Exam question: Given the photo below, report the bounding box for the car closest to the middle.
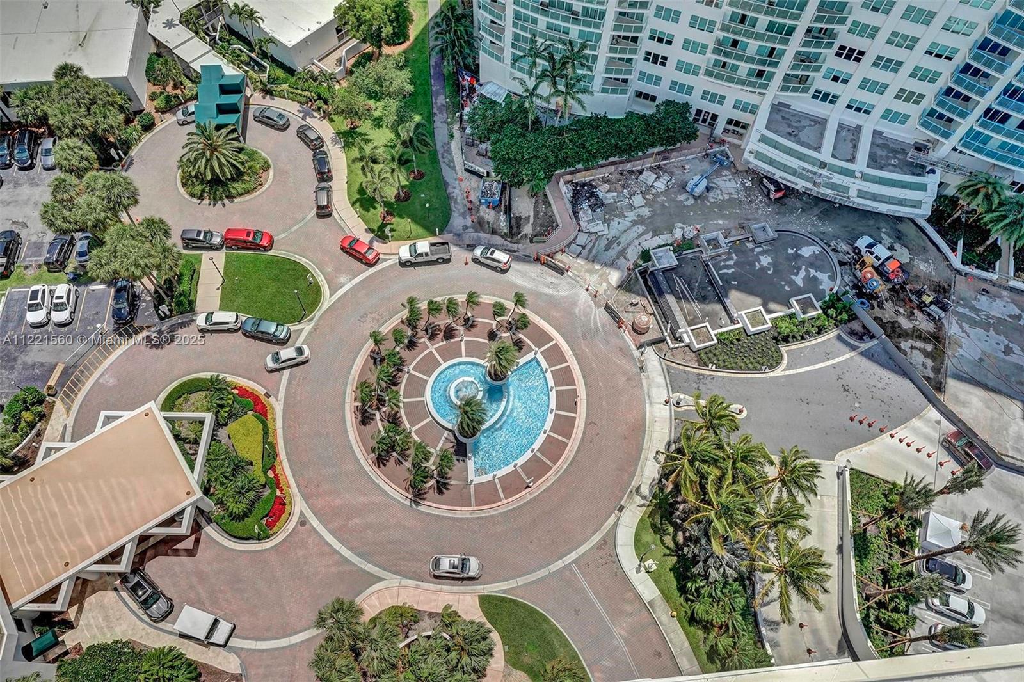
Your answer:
[470,246,515,273]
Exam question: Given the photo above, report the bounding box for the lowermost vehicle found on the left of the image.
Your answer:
[168,604,235,649]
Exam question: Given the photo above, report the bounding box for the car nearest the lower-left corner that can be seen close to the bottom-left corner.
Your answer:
[118,570,172,621]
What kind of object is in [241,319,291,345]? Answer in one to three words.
car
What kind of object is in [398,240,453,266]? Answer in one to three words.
truck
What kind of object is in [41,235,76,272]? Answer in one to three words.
car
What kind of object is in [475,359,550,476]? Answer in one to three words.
swimming pool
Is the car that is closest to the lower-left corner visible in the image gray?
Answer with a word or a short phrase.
Yes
